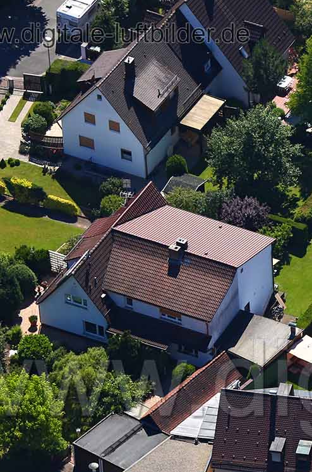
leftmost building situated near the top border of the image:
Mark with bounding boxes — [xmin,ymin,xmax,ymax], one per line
[55,2,225,178]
